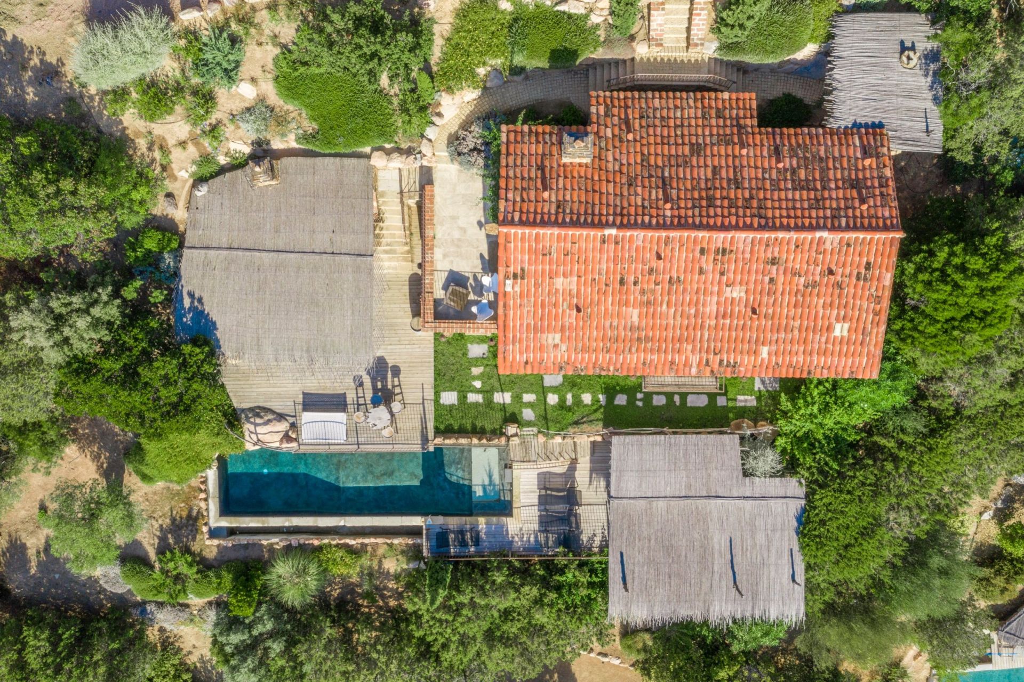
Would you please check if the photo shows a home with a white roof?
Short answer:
No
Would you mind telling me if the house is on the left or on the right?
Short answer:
right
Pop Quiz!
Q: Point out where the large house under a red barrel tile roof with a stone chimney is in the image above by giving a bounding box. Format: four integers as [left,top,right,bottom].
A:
[496,88,907,382]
